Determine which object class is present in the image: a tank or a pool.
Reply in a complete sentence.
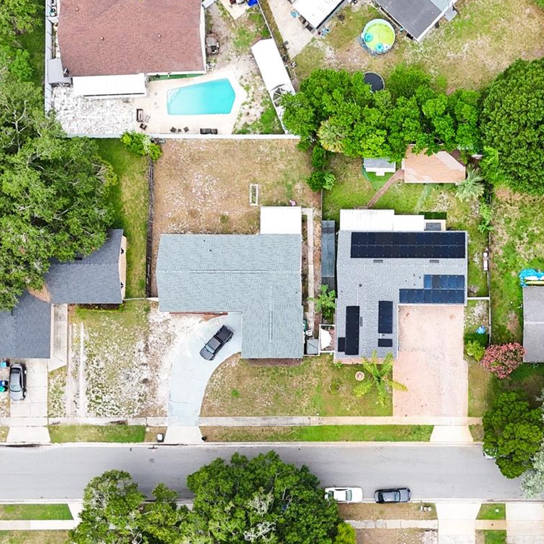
I can see a pool in this picture.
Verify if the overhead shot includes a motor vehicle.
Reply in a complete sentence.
Yes, a motor vehicle is visible in the scene.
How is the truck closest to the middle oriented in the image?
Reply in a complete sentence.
What the image shows is the truck closest to the middle lying at an angle.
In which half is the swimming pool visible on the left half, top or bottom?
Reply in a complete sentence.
Seen from above, the swimming pool visible on the left half lies in the top half of the view.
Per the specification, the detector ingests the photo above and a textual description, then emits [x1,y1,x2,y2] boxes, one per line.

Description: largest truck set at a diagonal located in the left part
[198,323,234,362]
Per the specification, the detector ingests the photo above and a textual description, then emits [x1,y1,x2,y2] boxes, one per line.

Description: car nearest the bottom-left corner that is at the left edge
[6,364,24,400]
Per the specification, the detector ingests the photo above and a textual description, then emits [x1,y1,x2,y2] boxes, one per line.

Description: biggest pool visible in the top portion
[135,68,247,133]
